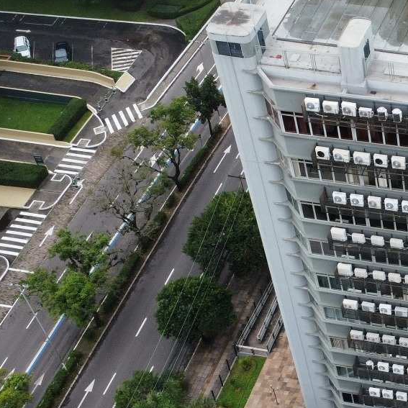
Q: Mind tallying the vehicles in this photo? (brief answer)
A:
2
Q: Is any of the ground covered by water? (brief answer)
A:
No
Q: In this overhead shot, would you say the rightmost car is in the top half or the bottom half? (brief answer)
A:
top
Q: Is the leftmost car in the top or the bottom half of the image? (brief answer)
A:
top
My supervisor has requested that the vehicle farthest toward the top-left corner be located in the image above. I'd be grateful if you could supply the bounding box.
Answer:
[9,35,37,55]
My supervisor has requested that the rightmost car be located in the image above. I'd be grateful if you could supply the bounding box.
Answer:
[49,39,78,62]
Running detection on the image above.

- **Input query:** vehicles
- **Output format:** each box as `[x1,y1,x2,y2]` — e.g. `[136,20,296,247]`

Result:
[9,35,37,55]
[49,39,78,62]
